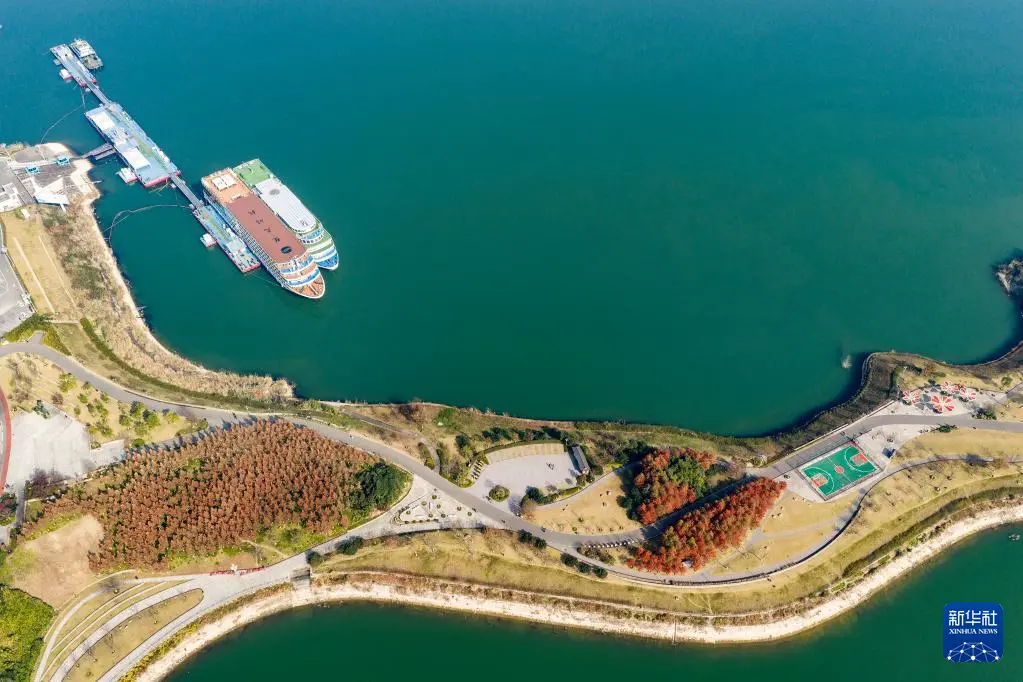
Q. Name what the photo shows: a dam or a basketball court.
basketball court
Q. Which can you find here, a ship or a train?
ship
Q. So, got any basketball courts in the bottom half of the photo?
Yes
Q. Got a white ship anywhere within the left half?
Yes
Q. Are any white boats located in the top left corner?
Yes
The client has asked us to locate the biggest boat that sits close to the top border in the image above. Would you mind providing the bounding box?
[67,34,103,70]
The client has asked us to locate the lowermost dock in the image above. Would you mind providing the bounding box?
[191,206,261,274]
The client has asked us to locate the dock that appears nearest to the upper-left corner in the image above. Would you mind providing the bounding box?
[51,44,98,87]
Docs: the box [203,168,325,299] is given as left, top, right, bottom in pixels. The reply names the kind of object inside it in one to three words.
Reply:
ship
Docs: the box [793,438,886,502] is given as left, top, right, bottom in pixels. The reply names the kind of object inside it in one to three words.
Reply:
basketball court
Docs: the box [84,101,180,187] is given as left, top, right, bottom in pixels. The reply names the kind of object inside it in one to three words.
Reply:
pier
